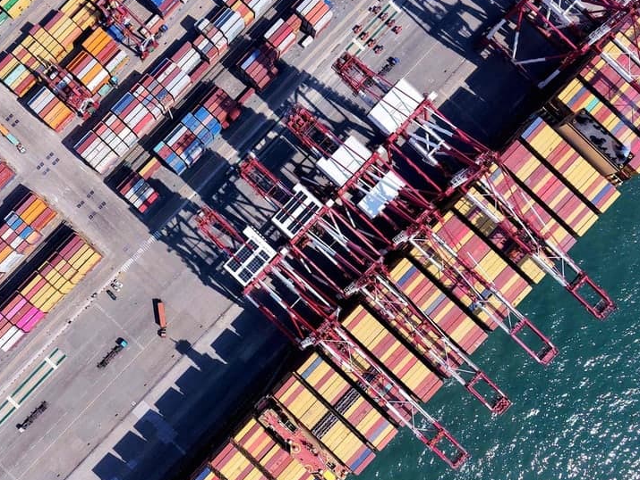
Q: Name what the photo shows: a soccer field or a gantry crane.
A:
gantry crane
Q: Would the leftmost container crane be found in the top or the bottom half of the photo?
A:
top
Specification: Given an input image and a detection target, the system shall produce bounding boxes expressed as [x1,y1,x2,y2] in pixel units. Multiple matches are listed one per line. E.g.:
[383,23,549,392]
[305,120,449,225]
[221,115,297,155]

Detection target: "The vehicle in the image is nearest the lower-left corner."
[18,403,44,430]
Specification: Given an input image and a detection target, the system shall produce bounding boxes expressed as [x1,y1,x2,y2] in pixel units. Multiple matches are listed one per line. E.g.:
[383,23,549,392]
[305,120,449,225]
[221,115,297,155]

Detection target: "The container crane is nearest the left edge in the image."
[34,56,107,132]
